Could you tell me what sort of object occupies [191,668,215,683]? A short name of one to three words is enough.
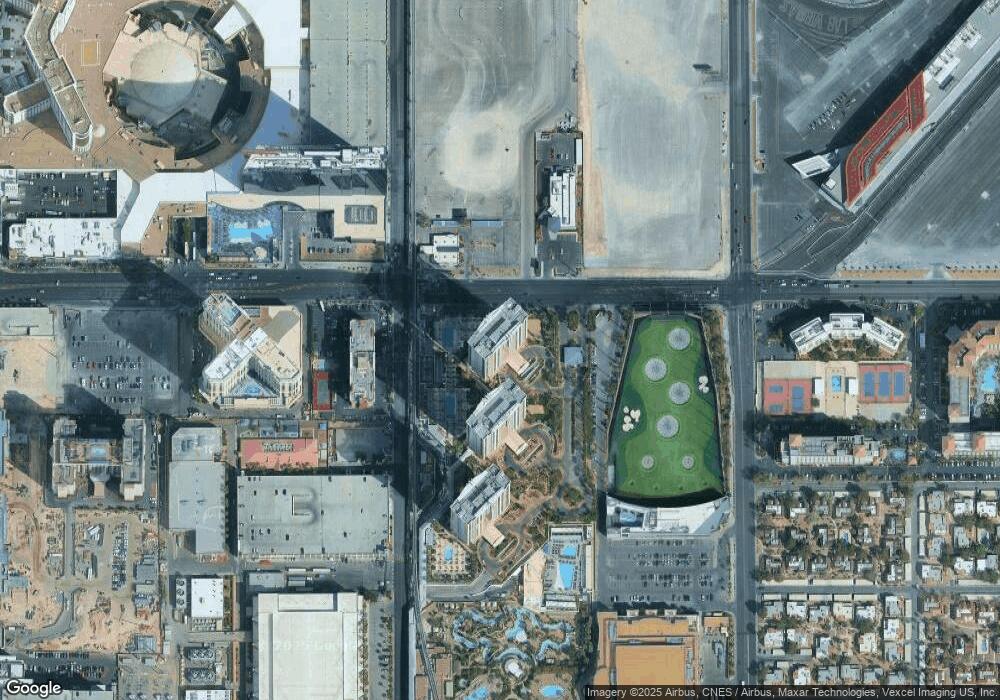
cooling tower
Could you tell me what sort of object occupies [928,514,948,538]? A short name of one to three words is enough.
house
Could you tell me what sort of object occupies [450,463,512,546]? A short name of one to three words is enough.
building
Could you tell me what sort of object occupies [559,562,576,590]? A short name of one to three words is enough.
swimming pool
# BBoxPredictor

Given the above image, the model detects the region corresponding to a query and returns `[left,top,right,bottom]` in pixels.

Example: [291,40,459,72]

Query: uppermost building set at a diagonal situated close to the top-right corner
[818,0,1000,215]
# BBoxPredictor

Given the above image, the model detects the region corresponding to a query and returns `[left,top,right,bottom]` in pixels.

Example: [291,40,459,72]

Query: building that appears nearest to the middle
[469,297,530,381]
